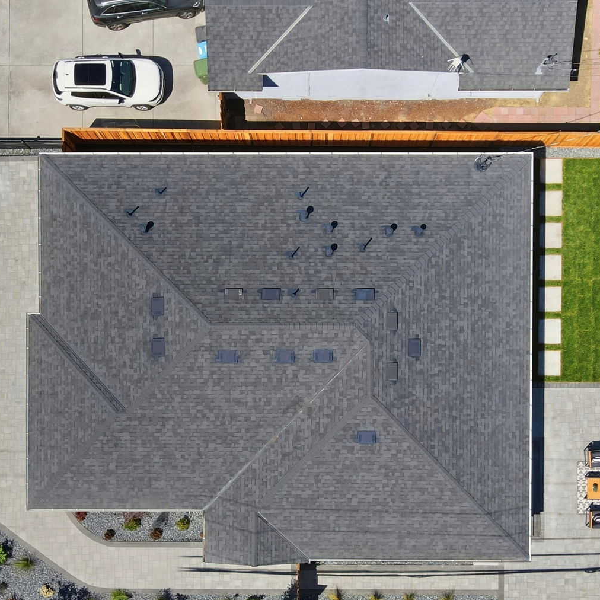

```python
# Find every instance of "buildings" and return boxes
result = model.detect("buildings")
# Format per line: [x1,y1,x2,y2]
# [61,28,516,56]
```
[206,0,575,103]
[25,151,535,567]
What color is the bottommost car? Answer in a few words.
white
